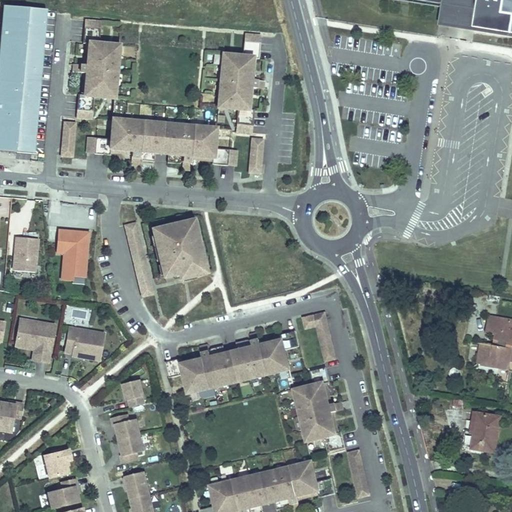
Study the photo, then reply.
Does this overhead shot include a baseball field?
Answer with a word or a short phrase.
No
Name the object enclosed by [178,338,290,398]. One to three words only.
house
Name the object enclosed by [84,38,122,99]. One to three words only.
house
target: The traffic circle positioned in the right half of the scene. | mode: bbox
[282,182,370,258]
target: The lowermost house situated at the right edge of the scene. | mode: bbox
[470,410,502,454]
